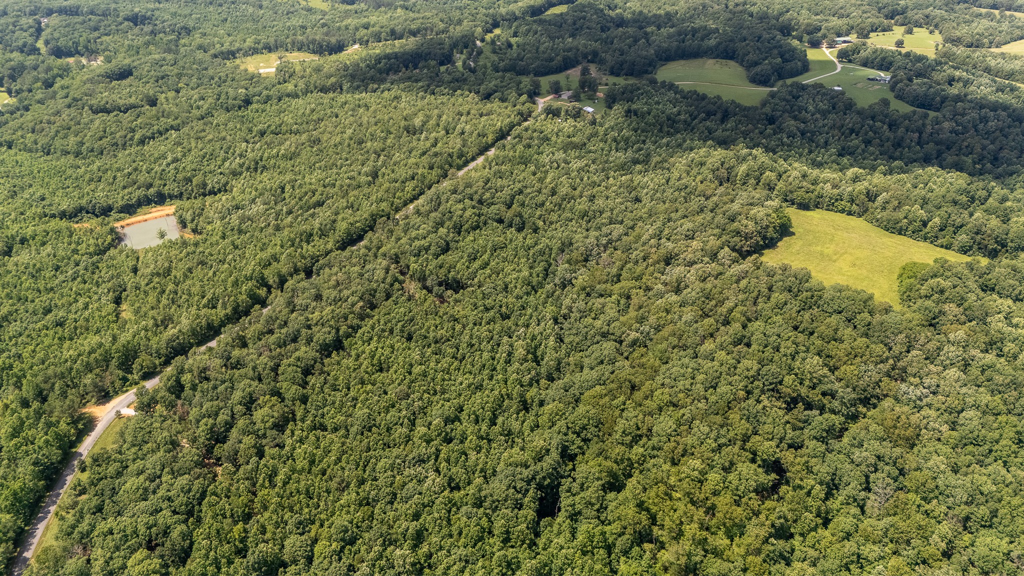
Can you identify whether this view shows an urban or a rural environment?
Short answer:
rural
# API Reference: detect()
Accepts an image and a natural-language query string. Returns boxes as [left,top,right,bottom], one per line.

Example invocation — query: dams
[112,205,176,230]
